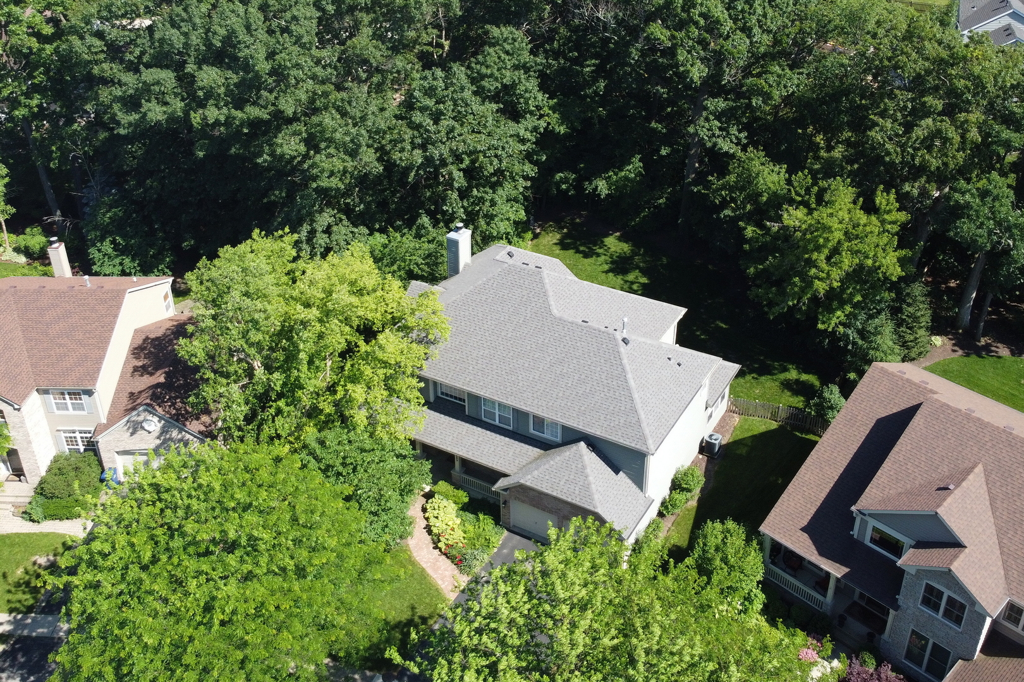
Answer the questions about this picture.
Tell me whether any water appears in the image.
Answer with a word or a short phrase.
No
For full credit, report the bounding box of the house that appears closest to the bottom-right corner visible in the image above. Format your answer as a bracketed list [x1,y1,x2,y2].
[758,361,1024,682]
